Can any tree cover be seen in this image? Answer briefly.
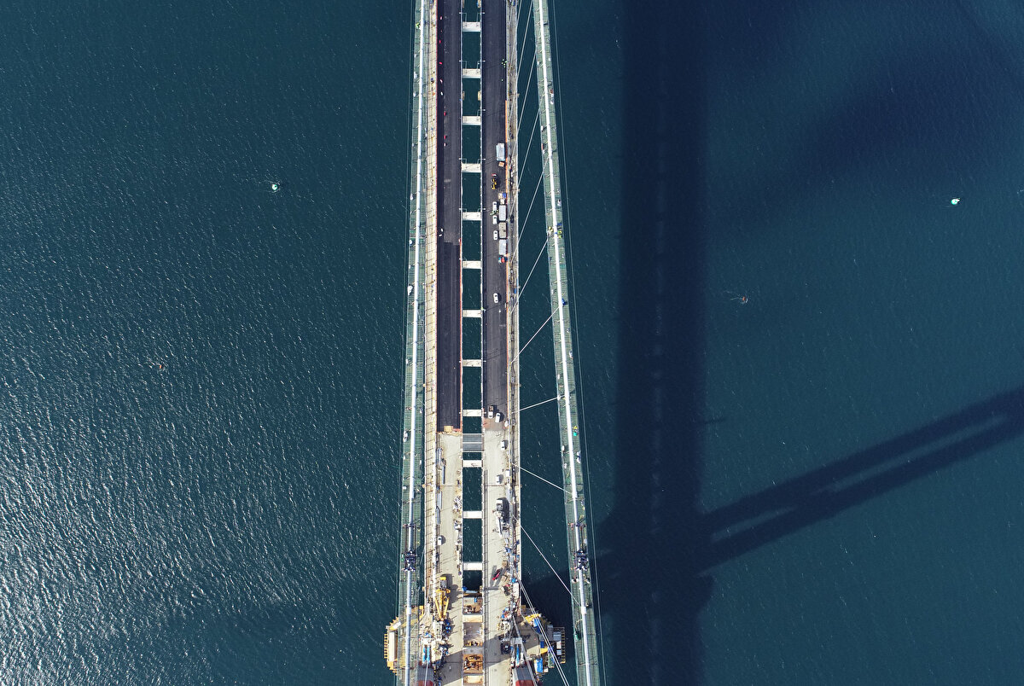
No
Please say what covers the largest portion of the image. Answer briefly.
water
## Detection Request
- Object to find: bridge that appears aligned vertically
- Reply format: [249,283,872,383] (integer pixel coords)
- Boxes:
[404,0,590,686]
